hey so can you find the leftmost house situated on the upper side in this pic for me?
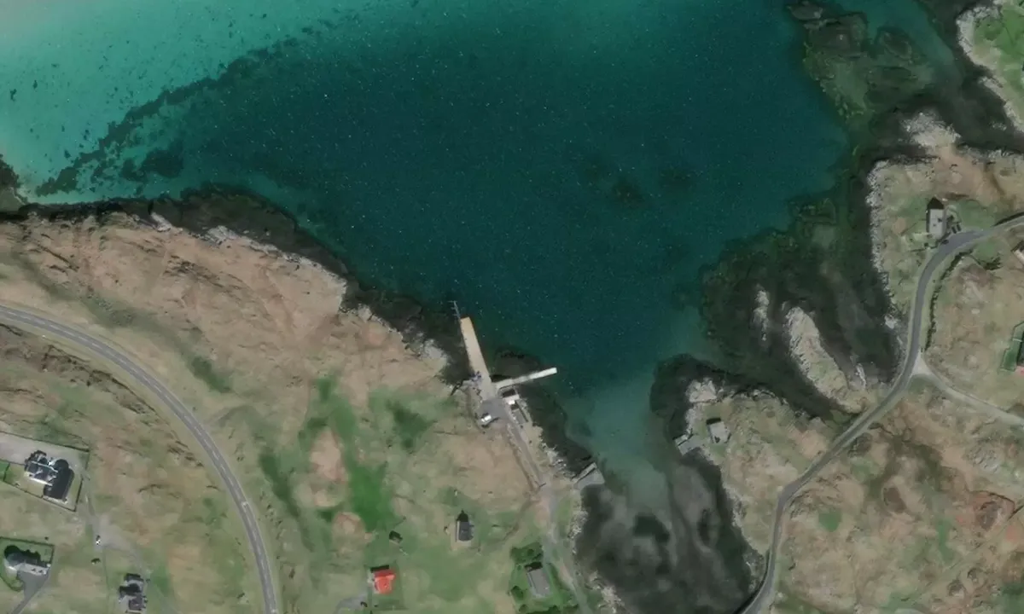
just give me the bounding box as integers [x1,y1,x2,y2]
[927,208,942,238]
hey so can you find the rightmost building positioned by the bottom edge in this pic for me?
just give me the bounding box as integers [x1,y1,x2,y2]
[526,569,550,598]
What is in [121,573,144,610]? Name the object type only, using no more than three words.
house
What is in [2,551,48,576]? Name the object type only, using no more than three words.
house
